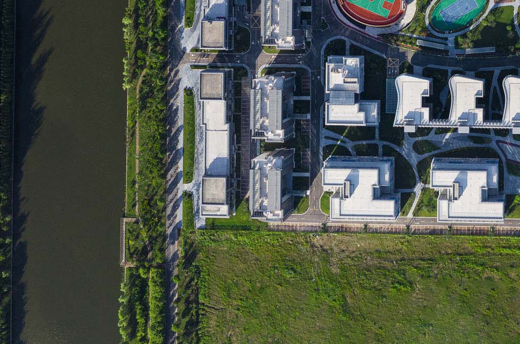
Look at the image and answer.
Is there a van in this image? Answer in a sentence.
No, the picture doesn't show any van.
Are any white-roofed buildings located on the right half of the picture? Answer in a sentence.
Yes, looking on the right half of the picture, one can make out a white-roofed building.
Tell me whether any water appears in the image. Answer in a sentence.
Yes, some water is visible.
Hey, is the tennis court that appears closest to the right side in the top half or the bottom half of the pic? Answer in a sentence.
It is in the top half that the tennis court that appears closest to the right side appears.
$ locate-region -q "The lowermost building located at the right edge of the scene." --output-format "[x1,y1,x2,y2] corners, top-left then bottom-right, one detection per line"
[431,159,507,225]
